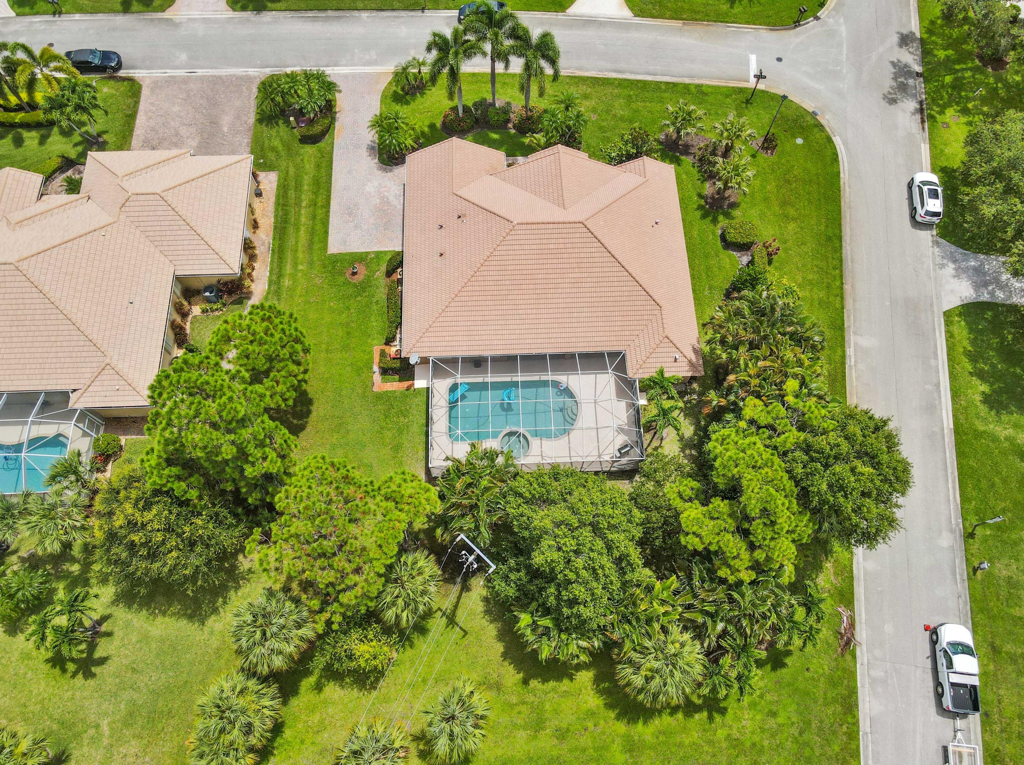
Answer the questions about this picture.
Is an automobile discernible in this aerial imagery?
Yes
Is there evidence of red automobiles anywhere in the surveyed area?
No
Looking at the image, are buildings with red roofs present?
No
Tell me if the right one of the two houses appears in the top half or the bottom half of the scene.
top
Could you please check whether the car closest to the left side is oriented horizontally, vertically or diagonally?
horizontally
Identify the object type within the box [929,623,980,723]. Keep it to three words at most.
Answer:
truck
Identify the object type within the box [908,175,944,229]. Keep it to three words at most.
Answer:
car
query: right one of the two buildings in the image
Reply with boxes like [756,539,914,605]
[401,132,706,384]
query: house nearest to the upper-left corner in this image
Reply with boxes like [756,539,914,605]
[0,148,257,414]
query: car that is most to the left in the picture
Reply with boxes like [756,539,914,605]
[63,48,124,77]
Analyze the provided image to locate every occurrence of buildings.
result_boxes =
[401,132,706,384]
[0,148,257,414]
